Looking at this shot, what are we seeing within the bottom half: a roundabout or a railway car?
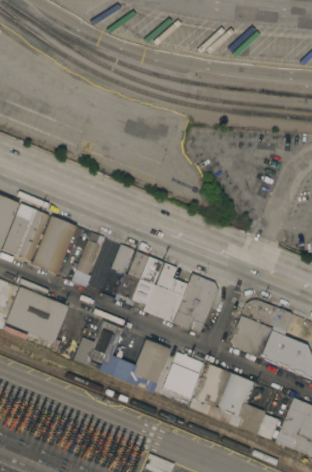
railway car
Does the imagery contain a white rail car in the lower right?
Yes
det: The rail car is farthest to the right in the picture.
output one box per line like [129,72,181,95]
[250,448,280,466]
